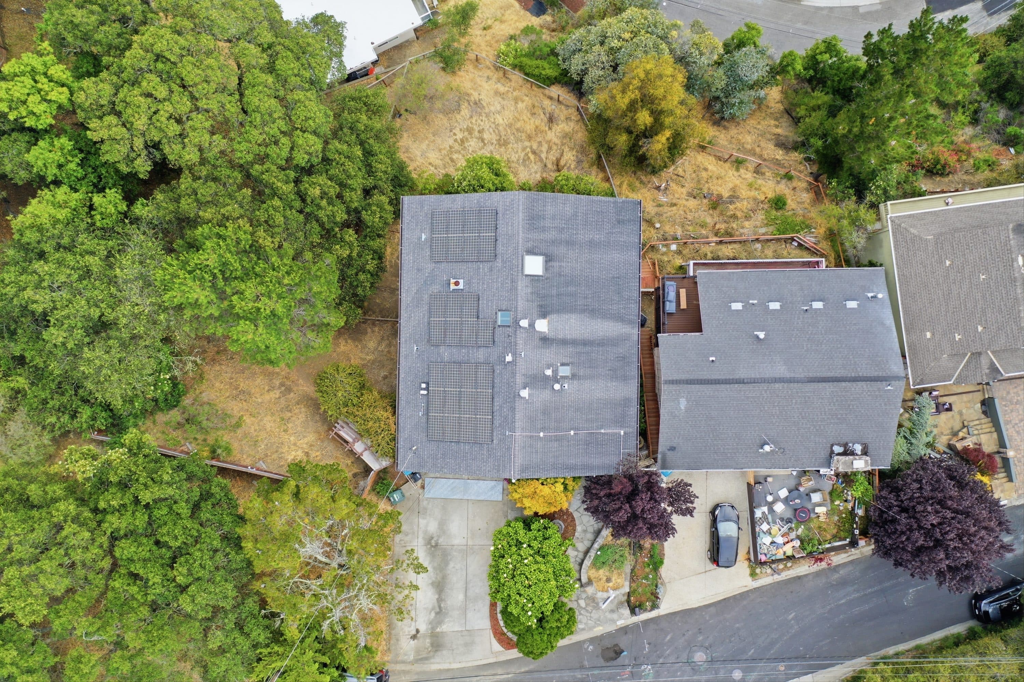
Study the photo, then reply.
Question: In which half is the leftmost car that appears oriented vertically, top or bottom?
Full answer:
The leftmost car that appears oriented vertically is in the bottom half of the image.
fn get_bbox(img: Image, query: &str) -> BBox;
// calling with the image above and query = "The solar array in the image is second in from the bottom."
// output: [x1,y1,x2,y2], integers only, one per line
[430,294,494,345]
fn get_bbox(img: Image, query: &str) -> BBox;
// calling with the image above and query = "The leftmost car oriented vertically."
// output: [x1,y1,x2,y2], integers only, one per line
[709,503,743,571]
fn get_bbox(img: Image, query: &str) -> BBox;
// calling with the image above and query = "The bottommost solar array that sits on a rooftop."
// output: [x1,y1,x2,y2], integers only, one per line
[428,364,494,443]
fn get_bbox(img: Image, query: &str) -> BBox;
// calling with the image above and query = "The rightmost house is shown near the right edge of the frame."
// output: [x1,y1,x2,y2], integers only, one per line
[865,181,1024,390]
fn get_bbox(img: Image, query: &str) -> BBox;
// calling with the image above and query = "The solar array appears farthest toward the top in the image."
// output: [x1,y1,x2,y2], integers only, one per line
[432,208,497,261]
